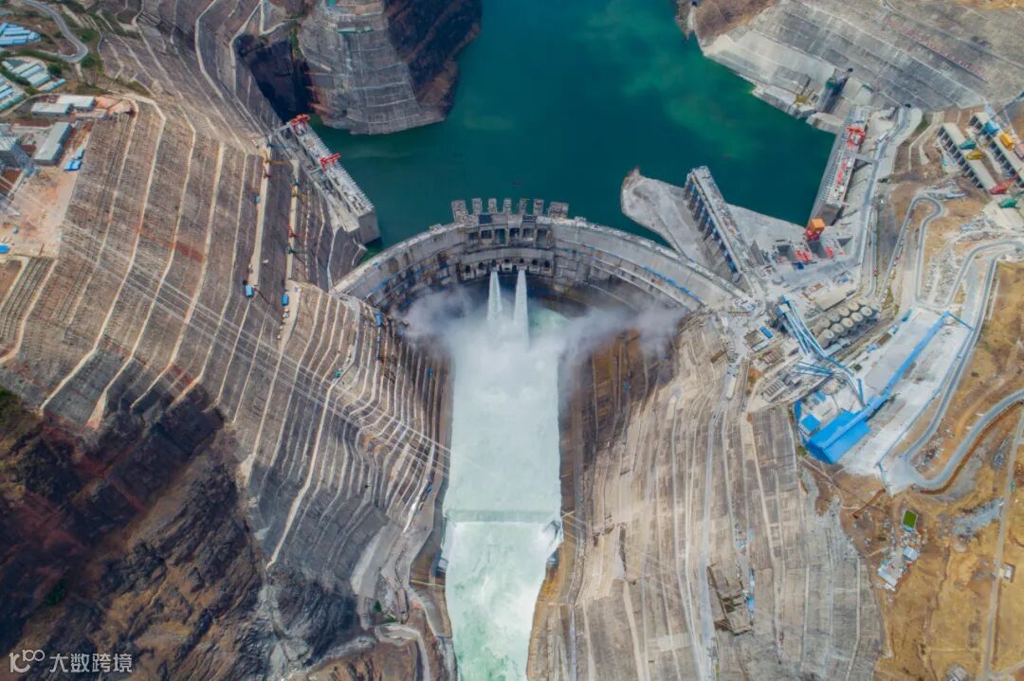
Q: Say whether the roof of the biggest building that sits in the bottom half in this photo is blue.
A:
Yes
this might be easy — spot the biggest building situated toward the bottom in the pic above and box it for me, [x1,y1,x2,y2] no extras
[802,412,867,469]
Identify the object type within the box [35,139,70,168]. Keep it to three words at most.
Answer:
building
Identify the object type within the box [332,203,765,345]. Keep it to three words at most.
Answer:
dam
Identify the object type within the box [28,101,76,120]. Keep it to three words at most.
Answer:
building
